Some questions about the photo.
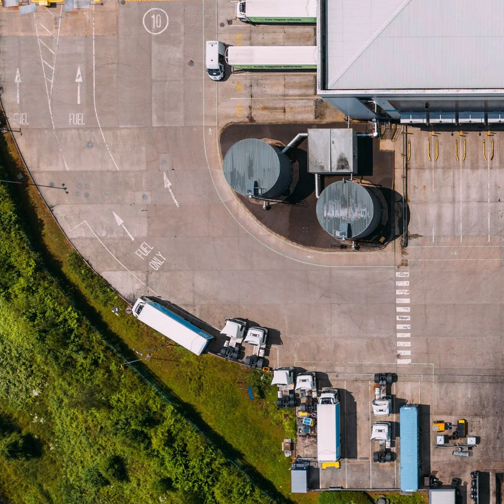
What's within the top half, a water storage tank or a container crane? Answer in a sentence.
The feature located within the top half is a water storage tank.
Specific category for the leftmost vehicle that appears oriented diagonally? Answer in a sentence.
Looking closely, the leftmost vehicle that appears oriented diagonally is a truck.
